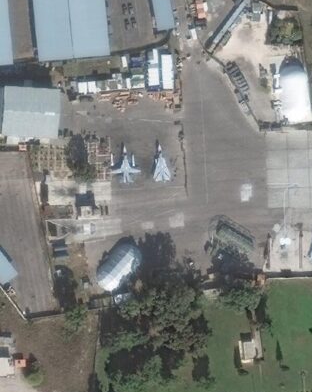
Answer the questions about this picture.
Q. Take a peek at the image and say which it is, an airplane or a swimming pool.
airplane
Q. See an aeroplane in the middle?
Yes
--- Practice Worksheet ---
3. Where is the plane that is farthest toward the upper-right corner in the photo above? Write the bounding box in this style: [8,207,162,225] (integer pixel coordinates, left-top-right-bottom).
[155,143,172,182]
